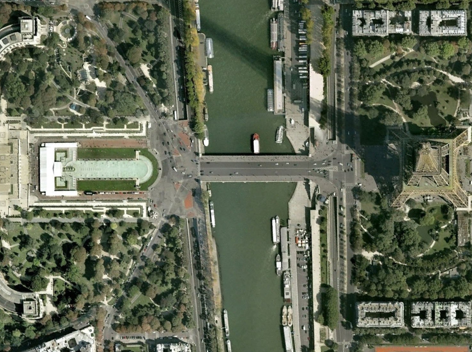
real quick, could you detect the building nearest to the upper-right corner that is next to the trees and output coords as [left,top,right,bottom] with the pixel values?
[418,10,467,37]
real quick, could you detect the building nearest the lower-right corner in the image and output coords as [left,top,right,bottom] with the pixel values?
[411,302,471,328]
